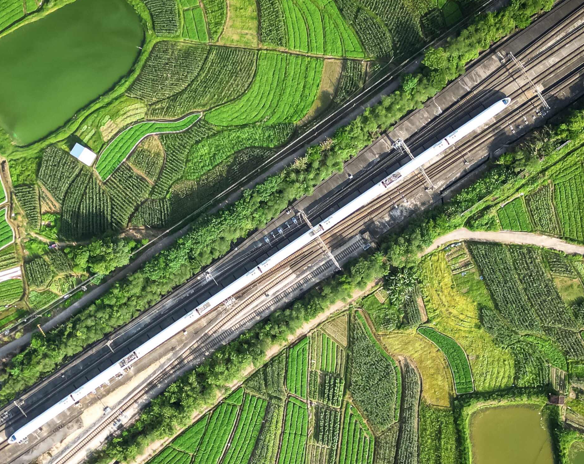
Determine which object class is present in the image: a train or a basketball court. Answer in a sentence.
There is a train in the scene.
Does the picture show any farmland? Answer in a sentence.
Yes, the picture does contain farmland.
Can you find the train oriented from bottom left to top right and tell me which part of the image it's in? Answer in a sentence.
The train oriented from bottom left to top right is located in the center region of the scene.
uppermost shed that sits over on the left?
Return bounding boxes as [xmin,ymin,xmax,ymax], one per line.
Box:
[70,143,96,166]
